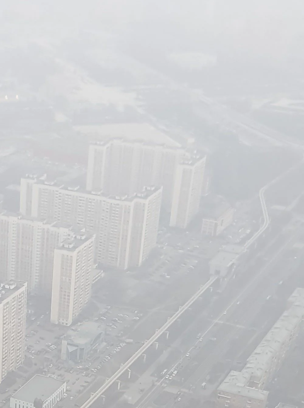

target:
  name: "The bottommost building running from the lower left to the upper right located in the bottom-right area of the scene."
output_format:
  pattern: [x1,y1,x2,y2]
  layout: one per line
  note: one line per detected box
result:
[213,298,304,408]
